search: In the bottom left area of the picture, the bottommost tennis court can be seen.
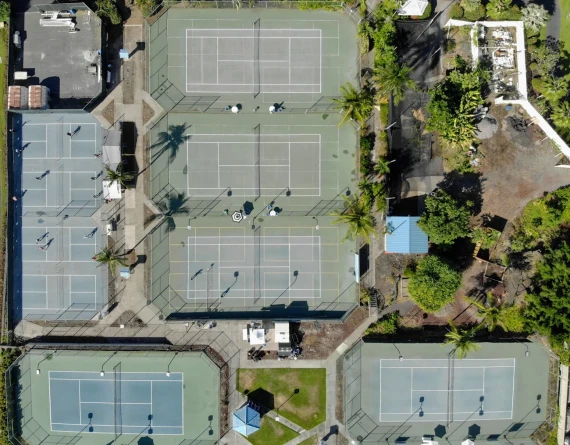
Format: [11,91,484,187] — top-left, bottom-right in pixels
[13,349,220,445]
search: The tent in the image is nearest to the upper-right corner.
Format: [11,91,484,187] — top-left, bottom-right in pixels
[394,0,428,21]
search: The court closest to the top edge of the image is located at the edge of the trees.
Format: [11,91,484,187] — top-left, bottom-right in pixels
[150,7,358,113]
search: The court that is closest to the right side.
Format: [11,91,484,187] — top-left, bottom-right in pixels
[345,342,549,443]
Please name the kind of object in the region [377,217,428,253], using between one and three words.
building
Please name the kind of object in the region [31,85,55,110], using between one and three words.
shed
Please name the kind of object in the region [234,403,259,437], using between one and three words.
gazebo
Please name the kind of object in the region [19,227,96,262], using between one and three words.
sports court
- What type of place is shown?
sports ground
